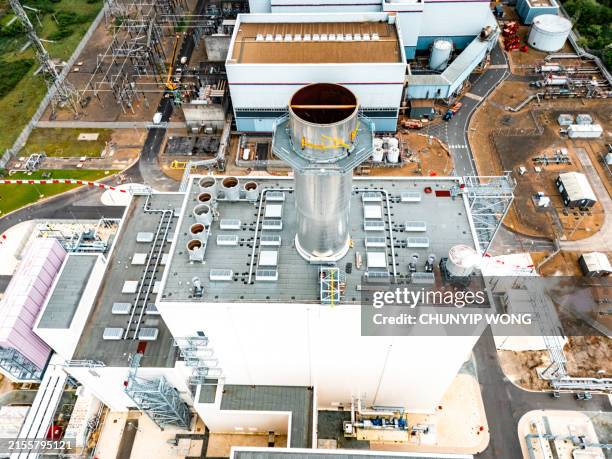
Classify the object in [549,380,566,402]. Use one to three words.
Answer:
car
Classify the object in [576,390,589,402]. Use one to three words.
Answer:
vehicle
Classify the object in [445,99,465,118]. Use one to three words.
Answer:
vehicle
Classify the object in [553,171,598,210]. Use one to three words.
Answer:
shed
